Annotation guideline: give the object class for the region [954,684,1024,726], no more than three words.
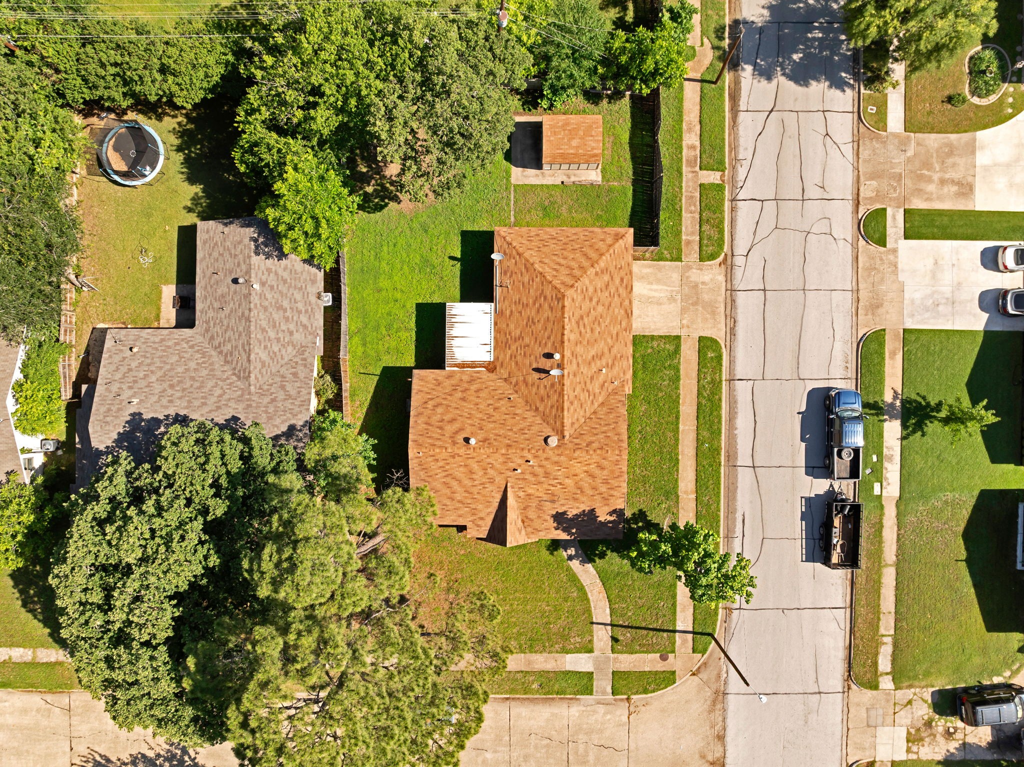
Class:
car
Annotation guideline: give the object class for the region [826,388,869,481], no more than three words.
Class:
truck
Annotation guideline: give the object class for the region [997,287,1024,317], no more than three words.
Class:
car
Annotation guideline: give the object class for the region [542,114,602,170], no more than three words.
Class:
shed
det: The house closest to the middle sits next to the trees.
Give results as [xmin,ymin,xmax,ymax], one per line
[409,226,635,547]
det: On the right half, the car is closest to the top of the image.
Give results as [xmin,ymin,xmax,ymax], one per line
[995,245,1024,274]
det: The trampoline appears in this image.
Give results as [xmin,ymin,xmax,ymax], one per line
[95,117,168,187]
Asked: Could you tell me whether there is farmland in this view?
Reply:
No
